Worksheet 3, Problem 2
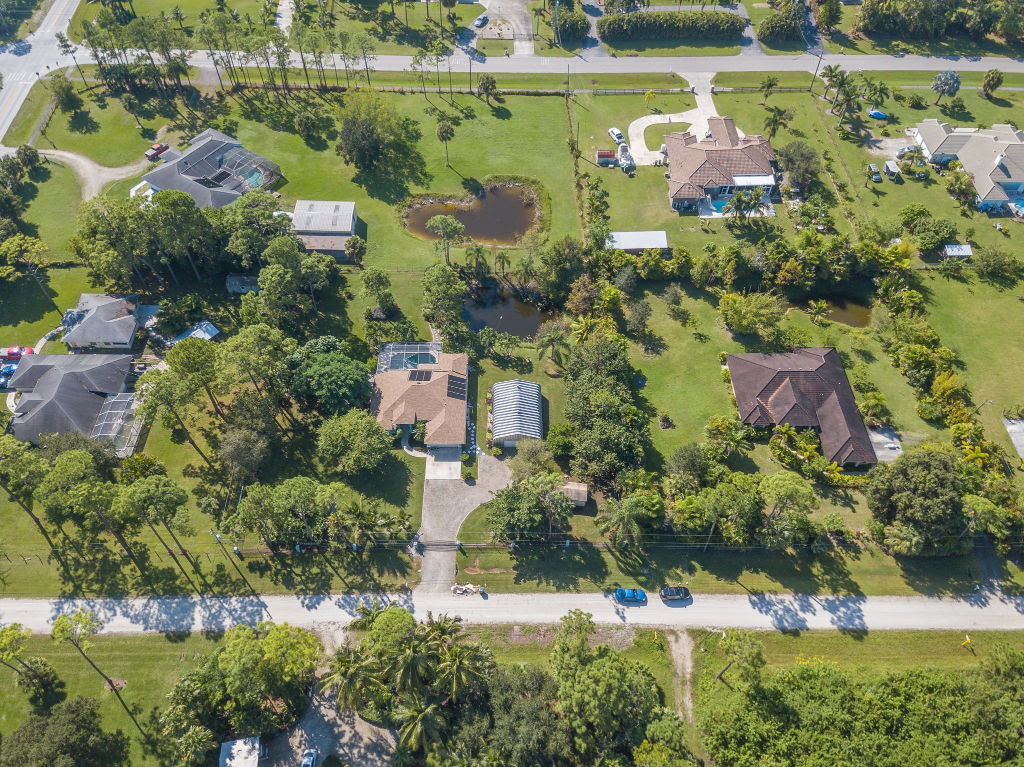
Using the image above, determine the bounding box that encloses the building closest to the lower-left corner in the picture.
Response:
[6,355,145,448]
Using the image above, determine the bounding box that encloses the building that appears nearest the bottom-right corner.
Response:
[726,348,877,469]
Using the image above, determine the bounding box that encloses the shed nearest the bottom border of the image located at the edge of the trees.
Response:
[560,483,587,508]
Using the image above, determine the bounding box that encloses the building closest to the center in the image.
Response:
[491,380,544,448]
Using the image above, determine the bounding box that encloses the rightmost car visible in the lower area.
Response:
[659,586,694,603]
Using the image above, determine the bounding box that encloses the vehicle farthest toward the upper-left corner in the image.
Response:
[142,144,170,159]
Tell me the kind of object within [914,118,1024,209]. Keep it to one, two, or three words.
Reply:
house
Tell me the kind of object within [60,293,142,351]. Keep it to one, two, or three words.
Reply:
house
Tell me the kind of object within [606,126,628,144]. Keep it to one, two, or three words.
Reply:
vehicle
